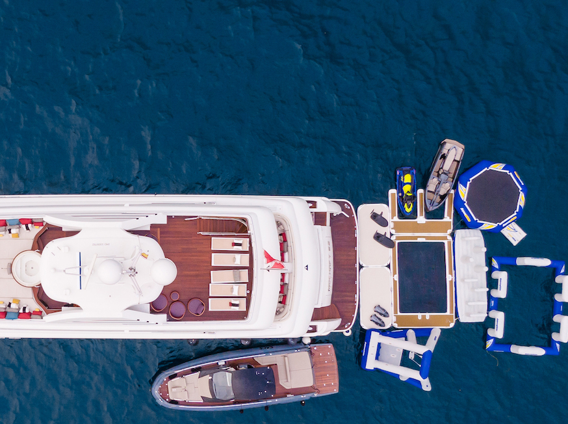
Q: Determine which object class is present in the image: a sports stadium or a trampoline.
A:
trampoline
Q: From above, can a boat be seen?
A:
Yes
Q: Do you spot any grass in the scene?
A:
No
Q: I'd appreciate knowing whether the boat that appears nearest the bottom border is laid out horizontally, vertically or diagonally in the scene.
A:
horizontally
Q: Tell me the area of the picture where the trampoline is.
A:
right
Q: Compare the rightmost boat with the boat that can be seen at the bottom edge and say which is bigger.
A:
the boat that can be seen at the bottom edge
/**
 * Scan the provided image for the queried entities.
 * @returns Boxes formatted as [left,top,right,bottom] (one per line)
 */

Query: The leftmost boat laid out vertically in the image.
[396,167,417,215]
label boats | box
[396,167,417,215]
[149,344,338,413]
[426,138,465,211]
[0,194,359,339]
